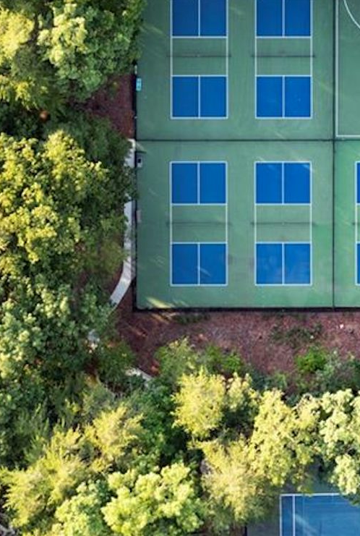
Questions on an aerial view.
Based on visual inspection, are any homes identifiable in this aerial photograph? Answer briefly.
No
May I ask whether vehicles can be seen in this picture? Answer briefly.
No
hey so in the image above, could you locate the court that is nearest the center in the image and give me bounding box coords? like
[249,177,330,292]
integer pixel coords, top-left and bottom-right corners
[170,162,228,286]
